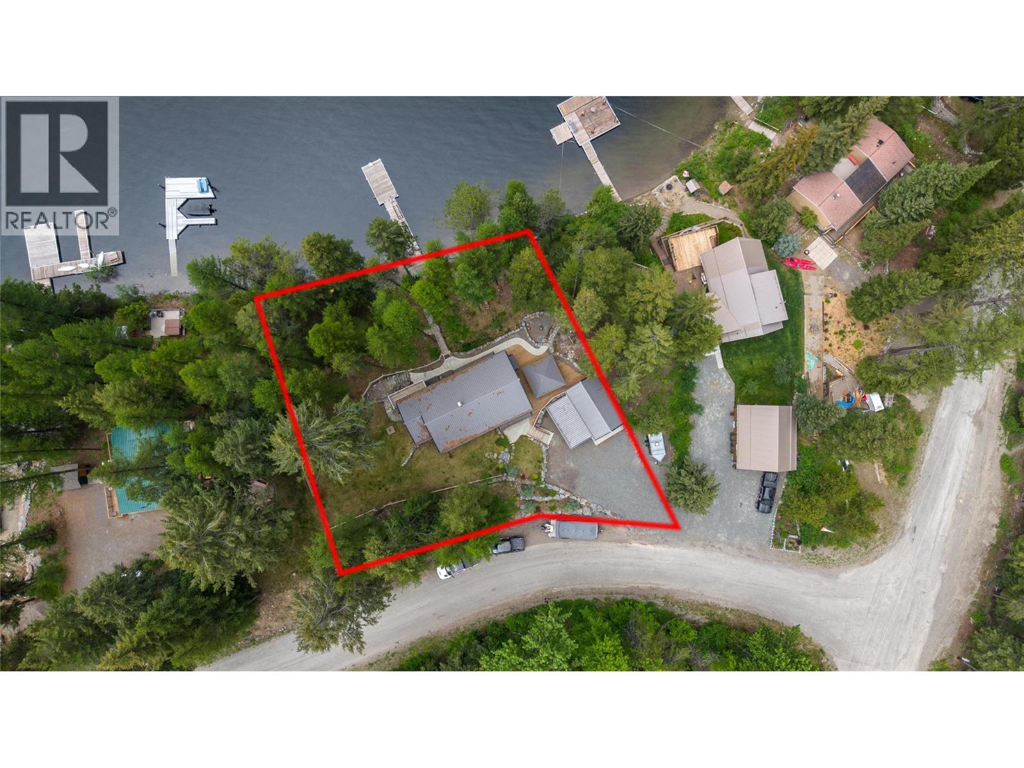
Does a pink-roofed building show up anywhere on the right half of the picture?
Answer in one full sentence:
Yes, a pink-roofed building shows up on the right half of the picture.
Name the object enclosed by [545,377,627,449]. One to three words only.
building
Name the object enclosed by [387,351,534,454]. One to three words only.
house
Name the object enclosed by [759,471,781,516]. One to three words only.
truck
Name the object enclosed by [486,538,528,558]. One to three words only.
vehicle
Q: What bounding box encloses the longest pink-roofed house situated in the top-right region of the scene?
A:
[787,127,919,248]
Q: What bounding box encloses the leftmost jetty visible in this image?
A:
[24,209,125,294]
